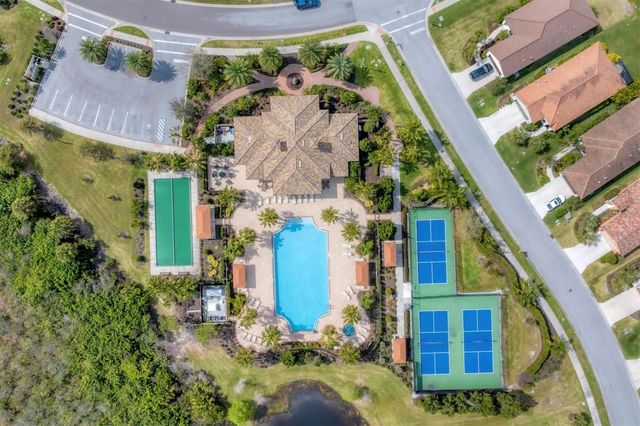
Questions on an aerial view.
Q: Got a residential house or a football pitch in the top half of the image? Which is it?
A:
residential house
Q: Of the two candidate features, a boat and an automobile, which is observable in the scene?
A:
automobile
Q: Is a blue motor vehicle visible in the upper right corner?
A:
Yes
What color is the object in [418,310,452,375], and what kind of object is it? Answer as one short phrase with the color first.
blue sports court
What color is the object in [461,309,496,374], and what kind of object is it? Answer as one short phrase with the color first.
blue sports court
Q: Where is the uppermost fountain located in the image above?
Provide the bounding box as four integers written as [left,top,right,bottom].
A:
[286,71,304,89]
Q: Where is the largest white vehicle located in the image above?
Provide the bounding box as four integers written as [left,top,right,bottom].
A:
[542,193,566,210]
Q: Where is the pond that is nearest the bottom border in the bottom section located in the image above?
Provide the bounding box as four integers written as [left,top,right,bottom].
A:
[271,389,354,426]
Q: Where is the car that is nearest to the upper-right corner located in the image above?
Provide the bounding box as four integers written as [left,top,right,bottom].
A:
[470,64,494,80]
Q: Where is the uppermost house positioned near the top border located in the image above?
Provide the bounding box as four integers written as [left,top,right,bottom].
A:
[489,0,601,77]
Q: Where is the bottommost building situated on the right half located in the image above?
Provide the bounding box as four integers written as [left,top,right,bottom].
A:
[391,336,406,364]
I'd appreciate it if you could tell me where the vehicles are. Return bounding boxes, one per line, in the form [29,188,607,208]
[542,193,566,210]
[294,0,320,8]
[470,64,494,80]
